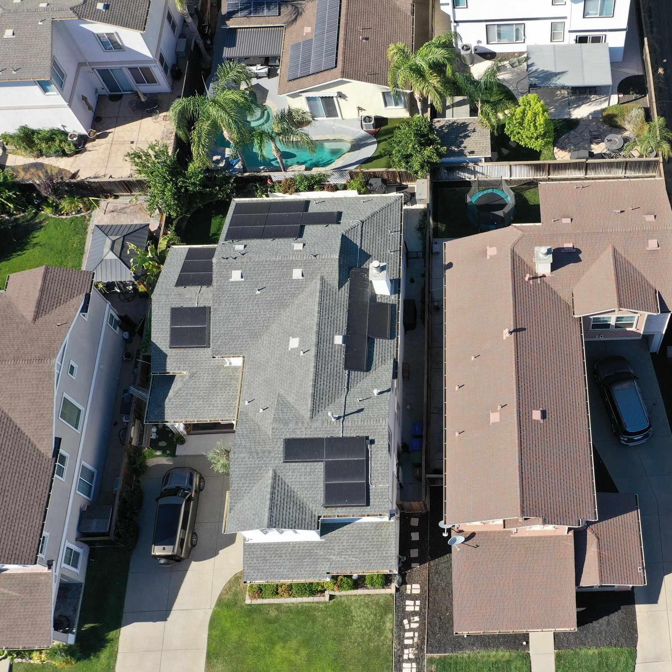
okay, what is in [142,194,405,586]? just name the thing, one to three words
house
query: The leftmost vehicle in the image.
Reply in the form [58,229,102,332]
[144,467,202,565]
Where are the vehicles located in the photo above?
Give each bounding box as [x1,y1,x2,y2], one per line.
[596,358,652,446]
[144,467,202,565]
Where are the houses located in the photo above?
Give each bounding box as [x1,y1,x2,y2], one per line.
[440,0,639,62]
[0,0,191,134]
[142,194,405,586]
[0,265,121,653]
[442,177,672,638]
[221,0,415,120]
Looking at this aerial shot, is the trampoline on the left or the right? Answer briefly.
right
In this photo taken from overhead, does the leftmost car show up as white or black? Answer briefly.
black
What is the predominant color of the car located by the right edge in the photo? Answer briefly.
black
